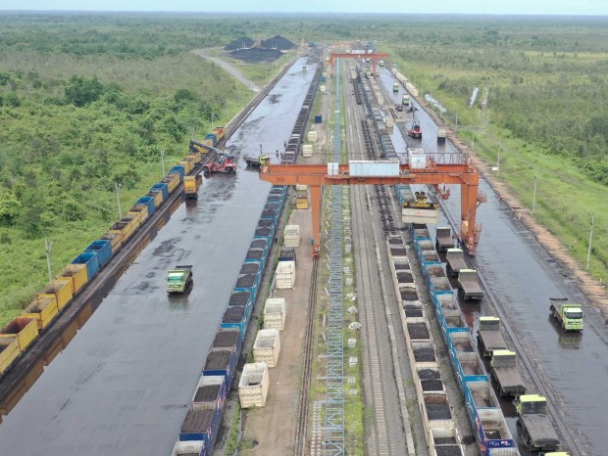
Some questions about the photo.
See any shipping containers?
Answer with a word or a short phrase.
Yes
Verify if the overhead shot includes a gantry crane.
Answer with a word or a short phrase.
Yes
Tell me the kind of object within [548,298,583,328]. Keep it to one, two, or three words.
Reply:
truck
